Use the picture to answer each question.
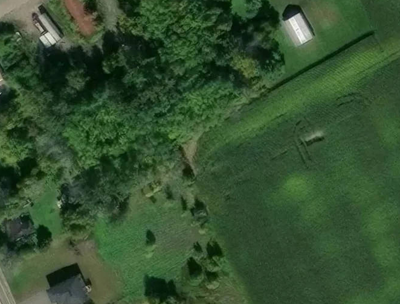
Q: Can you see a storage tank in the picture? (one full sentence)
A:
No, the picture doesn't show any storage tank.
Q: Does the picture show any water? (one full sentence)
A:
No, the picture contains no water.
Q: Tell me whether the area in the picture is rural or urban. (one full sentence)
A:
From above, the setting appears rural.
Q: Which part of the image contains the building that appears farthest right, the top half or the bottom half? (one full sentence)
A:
The building that appears farthest right sits in the top half of the picture.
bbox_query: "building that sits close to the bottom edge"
[46,272,91,304]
